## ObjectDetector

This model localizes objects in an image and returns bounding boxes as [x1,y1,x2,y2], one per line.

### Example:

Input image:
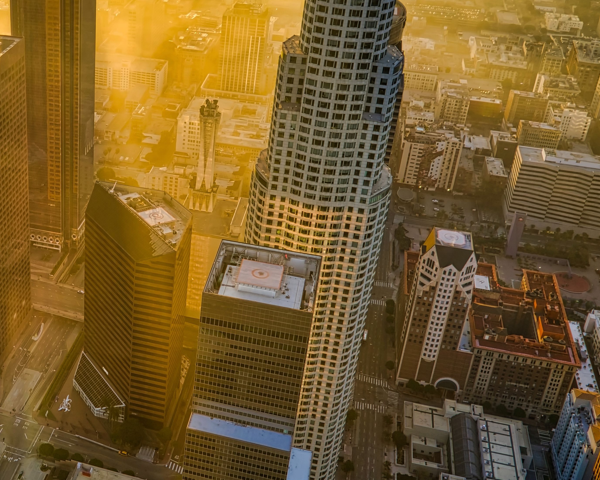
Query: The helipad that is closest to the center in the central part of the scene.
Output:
[236,259,284,291]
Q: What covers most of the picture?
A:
buildings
